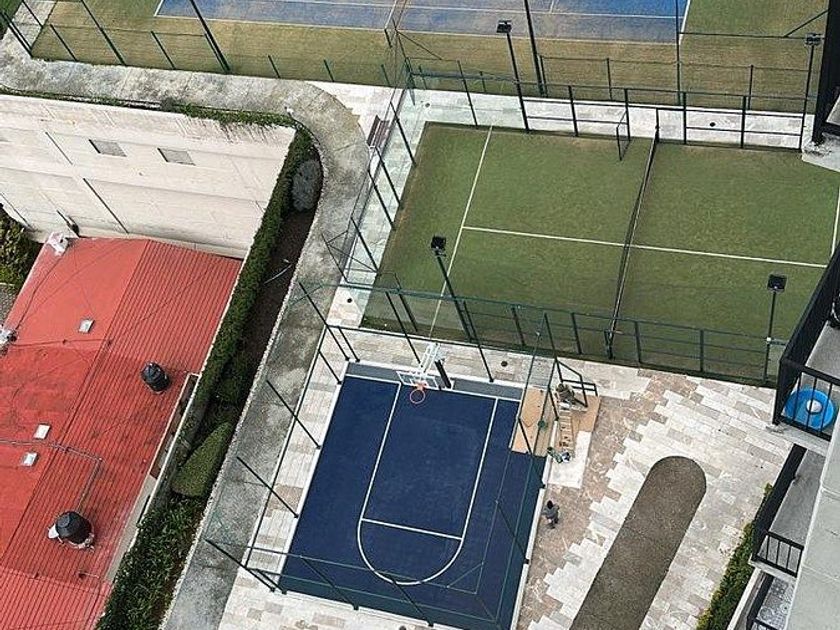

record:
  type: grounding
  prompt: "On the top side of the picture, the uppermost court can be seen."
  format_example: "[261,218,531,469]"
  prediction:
[33,0,833,115]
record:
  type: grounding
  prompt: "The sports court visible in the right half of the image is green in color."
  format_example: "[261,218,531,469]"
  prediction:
[360,121,840,390]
